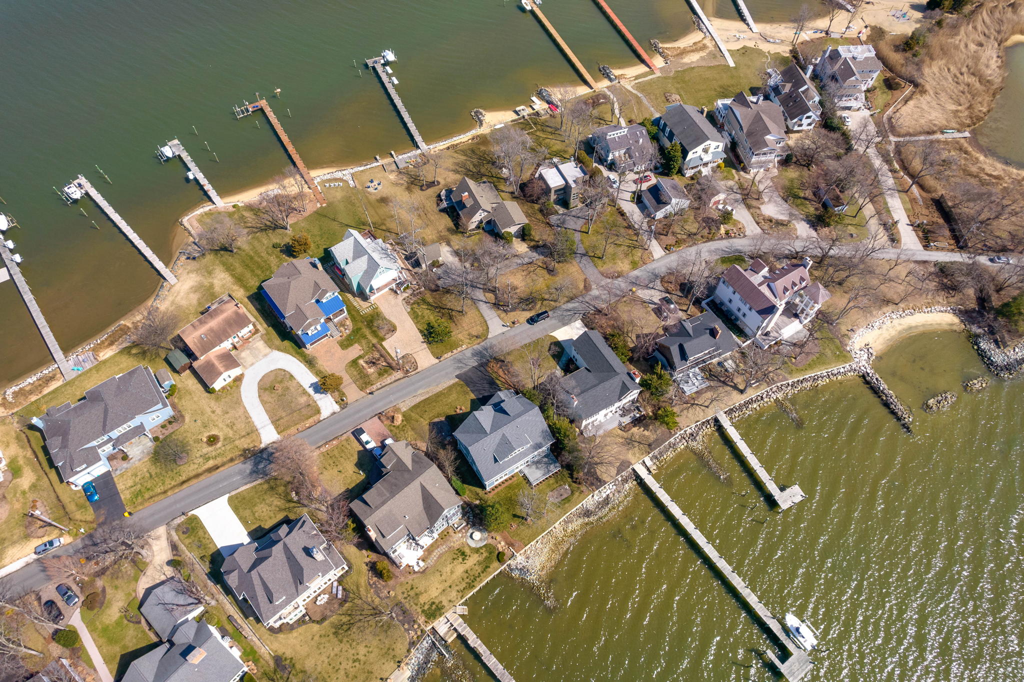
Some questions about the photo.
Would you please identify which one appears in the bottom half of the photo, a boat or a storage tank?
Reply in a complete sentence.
It is a boat that can be seen in the bottom half of the photo.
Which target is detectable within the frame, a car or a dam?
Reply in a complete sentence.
The image shows a car.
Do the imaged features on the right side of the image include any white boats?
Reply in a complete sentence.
Yes, a white boat is visible on the right side of the image.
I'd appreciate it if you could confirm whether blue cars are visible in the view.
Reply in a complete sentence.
Yes, you can see a blue car in this photo.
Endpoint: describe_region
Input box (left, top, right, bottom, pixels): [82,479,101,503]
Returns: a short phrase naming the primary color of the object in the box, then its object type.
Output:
blue car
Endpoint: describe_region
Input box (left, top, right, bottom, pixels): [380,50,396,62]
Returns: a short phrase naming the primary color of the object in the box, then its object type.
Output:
white boat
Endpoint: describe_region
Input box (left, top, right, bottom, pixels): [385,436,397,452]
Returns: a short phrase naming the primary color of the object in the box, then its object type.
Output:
white vehicle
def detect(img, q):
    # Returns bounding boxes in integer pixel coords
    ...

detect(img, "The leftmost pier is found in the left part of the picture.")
[0,238,73,381]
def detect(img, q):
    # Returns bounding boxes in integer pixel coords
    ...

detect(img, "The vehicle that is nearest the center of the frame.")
[528,309,551,326]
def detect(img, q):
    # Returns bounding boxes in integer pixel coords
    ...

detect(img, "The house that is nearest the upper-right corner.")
[811,41,882,114]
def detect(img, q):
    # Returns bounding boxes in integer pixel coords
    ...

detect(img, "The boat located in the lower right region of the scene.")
[788,616,819,651]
